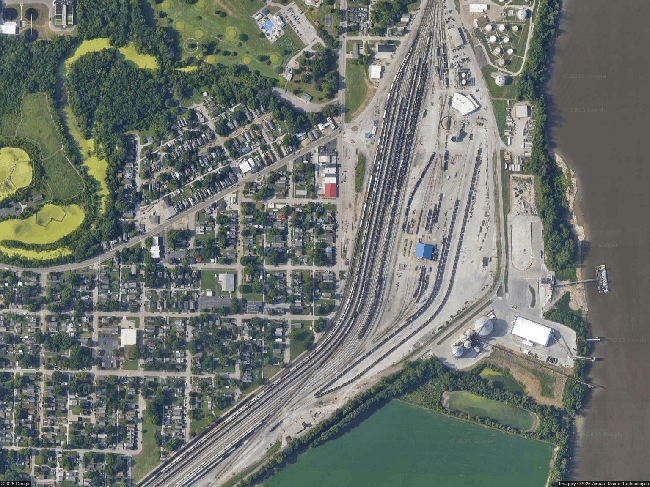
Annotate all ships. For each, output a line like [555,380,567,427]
[595,265,608,292]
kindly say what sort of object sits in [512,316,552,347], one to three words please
building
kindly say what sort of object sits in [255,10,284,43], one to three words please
swimming pool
